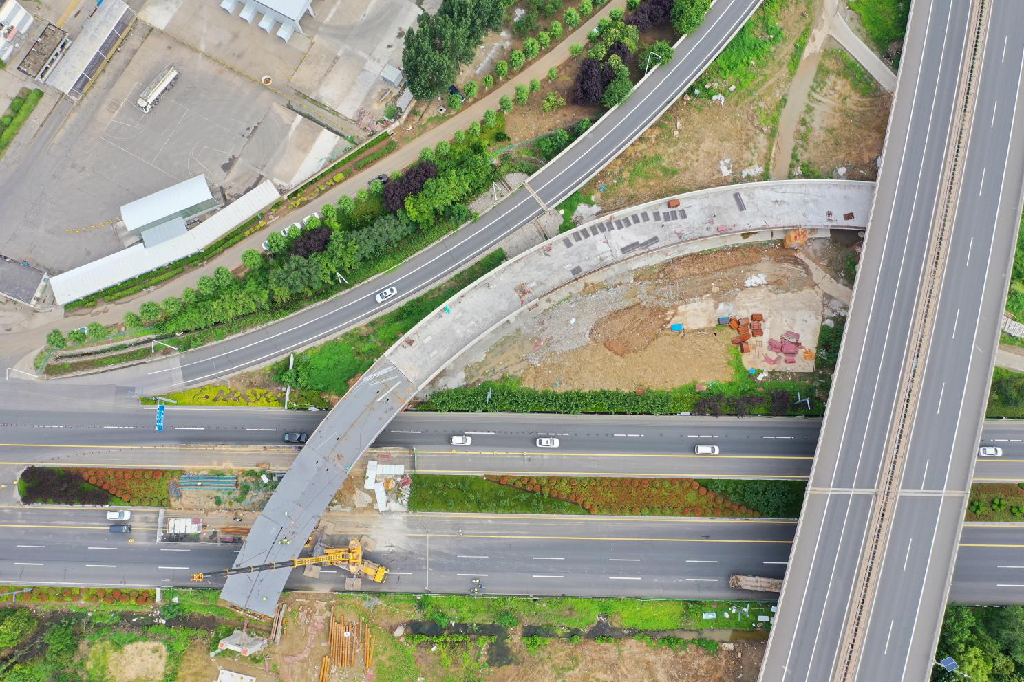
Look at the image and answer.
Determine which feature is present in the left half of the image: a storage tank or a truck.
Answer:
truck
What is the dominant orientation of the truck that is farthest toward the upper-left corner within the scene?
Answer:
at an angle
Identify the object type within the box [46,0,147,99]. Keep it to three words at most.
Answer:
shed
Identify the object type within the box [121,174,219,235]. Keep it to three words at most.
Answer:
shed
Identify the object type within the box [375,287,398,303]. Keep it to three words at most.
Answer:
car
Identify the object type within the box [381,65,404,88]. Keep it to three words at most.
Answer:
building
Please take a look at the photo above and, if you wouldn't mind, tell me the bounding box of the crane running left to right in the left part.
[192,525,390,588]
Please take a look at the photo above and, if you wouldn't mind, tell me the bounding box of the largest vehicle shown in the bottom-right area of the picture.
[725,573,783,592]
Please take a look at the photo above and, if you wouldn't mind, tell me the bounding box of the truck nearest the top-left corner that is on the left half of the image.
[138,64,177,109]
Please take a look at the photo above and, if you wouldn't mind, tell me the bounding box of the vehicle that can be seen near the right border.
[978,446,1002,458]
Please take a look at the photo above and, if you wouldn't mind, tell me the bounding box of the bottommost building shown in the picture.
[168,517,209,534]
